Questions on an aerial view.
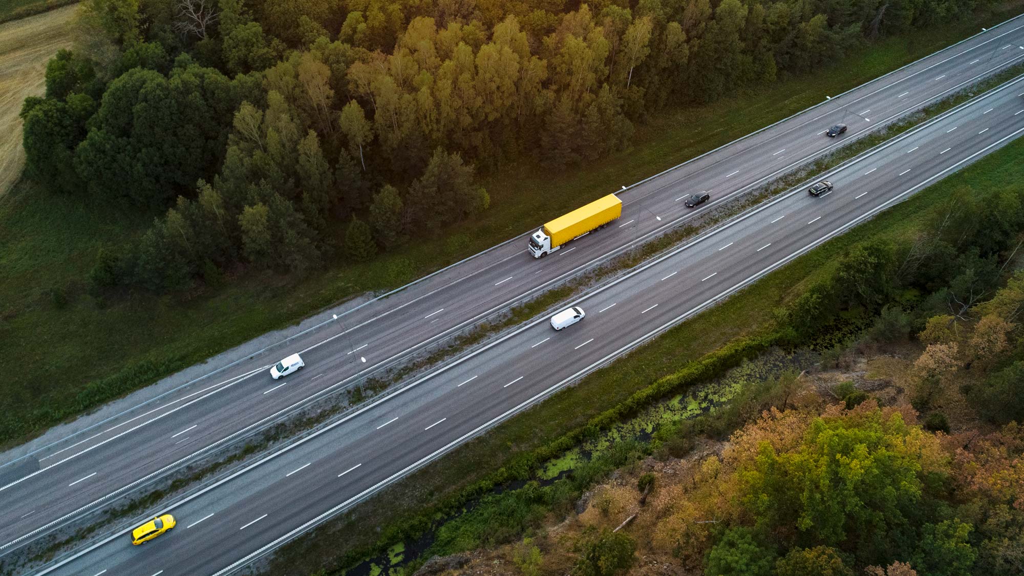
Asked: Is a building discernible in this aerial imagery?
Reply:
No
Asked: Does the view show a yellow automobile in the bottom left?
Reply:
Yes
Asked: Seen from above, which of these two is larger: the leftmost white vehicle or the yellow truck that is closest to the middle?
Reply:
the truck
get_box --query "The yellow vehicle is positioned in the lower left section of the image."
[130,513,176,545]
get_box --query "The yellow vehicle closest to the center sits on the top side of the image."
[528,194,622,257]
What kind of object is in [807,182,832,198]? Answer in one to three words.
car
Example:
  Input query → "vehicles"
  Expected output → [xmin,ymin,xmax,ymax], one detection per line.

[552,306,587,330]
[826,123,848,138]
[272,353,306,379]
[130,513,176,545]
[528,194,622,257]
[807,182,832,198]
[685,191,710,209]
